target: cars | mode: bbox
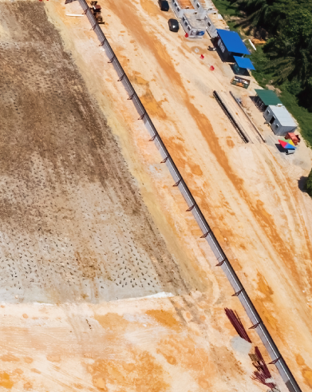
[158,0,171,11]
[168,16,180,29]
